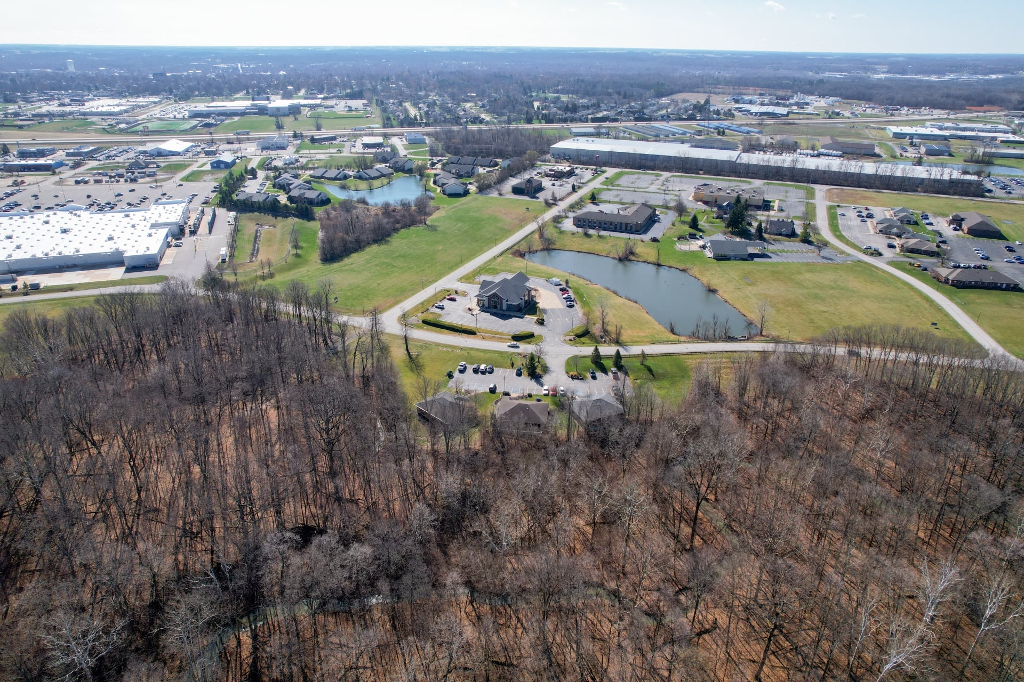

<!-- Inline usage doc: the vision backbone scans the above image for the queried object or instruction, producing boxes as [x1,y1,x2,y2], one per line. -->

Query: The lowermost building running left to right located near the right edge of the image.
[930,266,1023,290]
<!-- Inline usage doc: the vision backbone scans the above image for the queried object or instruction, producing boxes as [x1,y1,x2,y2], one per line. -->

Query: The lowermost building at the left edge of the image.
[0,201,190,274]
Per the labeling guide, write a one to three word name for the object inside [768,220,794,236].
house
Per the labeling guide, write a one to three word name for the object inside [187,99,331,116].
building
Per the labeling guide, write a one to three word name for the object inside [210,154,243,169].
barn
